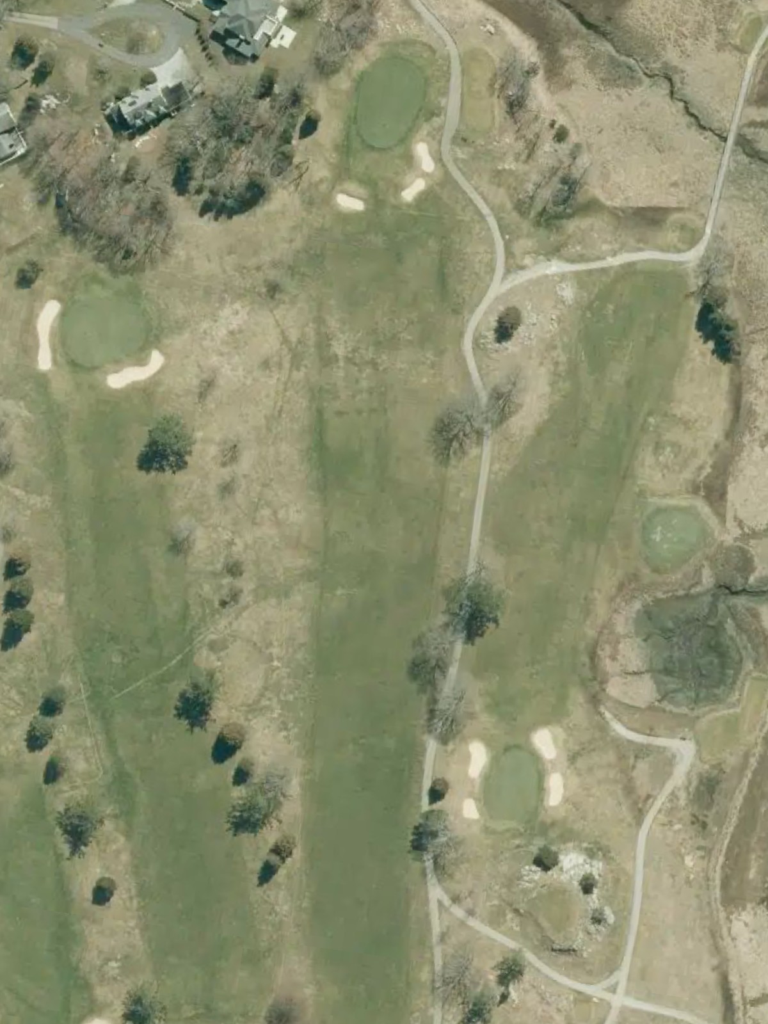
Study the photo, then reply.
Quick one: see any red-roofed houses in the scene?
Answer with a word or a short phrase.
No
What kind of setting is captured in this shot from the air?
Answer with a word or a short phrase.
golf course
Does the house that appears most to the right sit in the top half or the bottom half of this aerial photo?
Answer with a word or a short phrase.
top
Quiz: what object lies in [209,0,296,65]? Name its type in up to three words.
house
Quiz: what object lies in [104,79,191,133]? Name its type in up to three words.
house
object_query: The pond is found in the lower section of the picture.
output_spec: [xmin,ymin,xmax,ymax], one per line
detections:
[636,591,742,703]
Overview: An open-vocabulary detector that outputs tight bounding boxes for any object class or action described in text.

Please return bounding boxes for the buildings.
[104,79,191,133]
[0,100,26,163]
[209,0,296,65]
